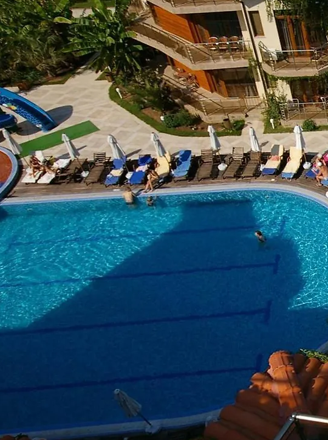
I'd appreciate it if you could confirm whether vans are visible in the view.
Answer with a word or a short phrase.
No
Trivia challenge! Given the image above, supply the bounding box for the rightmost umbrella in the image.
[295,122,310,158]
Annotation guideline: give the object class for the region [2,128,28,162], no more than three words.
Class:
umbrella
